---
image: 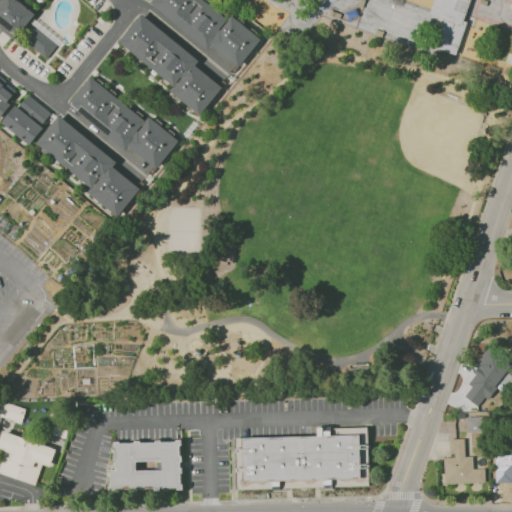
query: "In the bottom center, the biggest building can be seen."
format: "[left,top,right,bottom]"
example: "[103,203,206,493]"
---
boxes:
[234,428,370,490]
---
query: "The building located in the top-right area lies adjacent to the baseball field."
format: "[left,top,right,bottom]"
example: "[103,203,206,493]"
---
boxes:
[430,0,472,55]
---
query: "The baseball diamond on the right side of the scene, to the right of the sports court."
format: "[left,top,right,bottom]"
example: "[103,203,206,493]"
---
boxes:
[206,62,483,358]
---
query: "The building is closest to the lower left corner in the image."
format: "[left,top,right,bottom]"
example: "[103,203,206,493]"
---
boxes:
[0,432,54,487]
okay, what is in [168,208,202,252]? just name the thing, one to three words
sports court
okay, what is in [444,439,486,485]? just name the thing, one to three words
house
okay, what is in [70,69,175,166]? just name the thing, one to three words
building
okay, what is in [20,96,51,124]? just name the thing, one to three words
building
